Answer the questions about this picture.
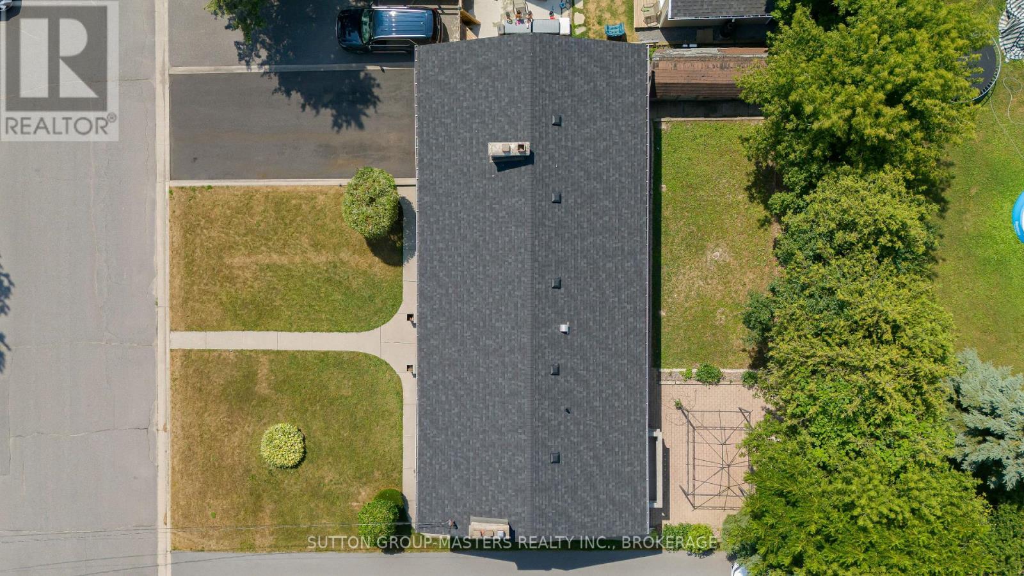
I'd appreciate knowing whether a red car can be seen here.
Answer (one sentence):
No, no red car is visible in the view.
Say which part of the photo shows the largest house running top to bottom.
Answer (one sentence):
Look in the center portion of the view to spot the largest house running top to bottom.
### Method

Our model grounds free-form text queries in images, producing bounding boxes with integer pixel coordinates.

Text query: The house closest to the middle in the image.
[415,33,648,545]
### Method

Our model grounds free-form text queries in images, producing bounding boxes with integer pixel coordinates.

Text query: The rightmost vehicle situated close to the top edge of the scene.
[336,2,442,57]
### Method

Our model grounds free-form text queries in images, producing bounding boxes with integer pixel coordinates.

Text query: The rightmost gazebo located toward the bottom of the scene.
[677,403,751,497]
